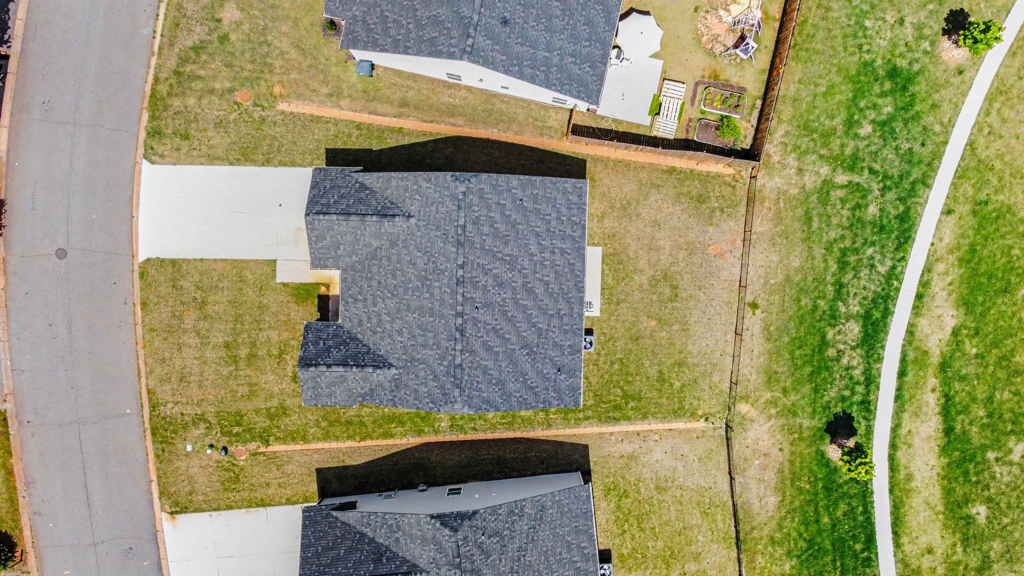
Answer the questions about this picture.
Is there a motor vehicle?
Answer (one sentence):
No, the photo shows no motor vehicle.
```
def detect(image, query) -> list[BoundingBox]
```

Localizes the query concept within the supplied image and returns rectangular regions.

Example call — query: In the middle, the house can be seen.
[296,166,588,414]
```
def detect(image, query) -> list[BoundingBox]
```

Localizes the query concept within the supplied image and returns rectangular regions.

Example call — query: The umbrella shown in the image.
[618,13,663,58]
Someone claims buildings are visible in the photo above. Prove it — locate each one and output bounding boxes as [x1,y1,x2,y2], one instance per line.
[323,0,624,120]
[298,473,602,576]
[296,166,588,414]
